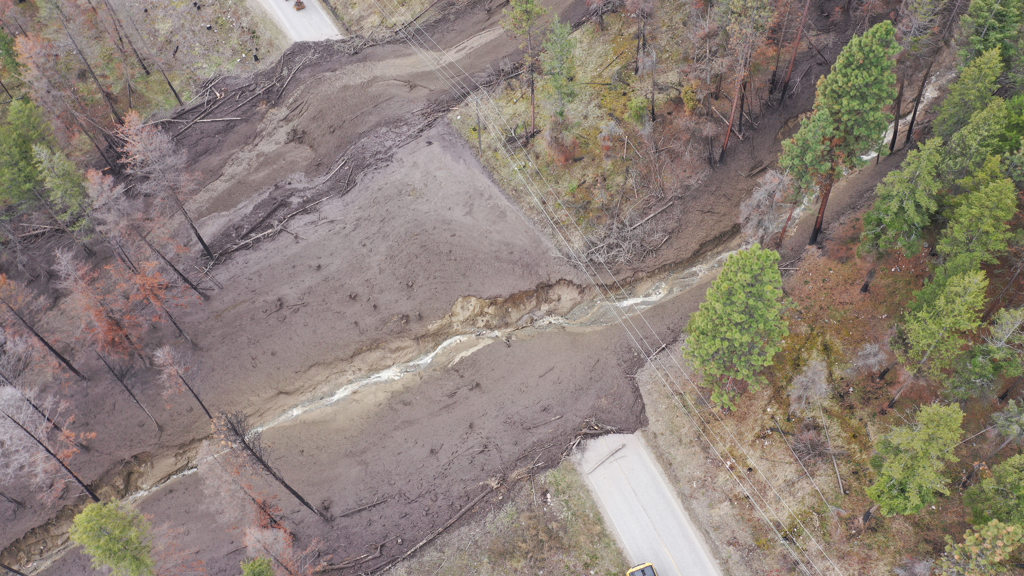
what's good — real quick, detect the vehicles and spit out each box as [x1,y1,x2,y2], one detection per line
[625,561,661,576]
[292,0,307,15]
